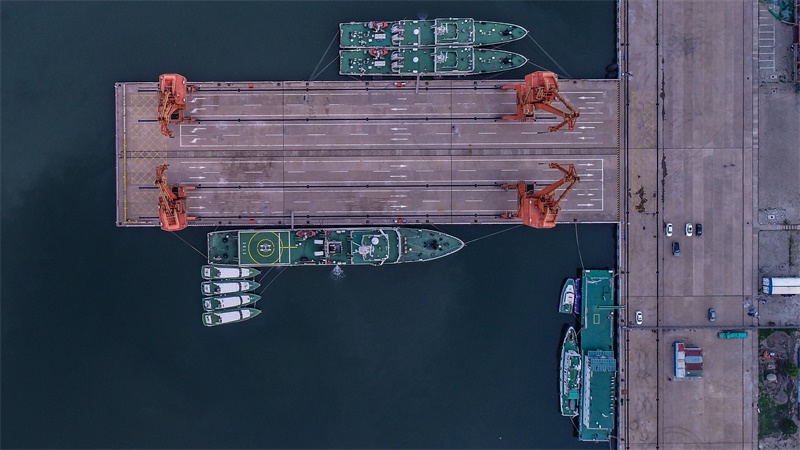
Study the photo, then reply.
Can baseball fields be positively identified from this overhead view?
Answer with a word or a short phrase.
No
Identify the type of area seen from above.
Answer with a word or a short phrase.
port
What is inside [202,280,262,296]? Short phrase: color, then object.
white boat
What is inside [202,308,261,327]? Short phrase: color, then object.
white boat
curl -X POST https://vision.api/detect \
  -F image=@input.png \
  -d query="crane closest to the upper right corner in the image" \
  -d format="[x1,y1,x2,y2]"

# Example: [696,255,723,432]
[498,72,588,137]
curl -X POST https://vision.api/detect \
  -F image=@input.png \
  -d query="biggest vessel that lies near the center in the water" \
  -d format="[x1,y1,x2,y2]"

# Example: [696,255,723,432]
[208,228,465,267]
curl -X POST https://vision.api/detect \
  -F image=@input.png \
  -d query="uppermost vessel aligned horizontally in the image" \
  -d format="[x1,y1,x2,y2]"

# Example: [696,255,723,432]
[340,18,529,48]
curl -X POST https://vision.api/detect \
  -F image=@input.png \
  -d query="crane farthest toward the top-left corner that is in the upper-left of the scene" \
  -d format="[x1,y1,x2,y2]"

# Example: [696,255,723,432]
[155,73,198,139]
